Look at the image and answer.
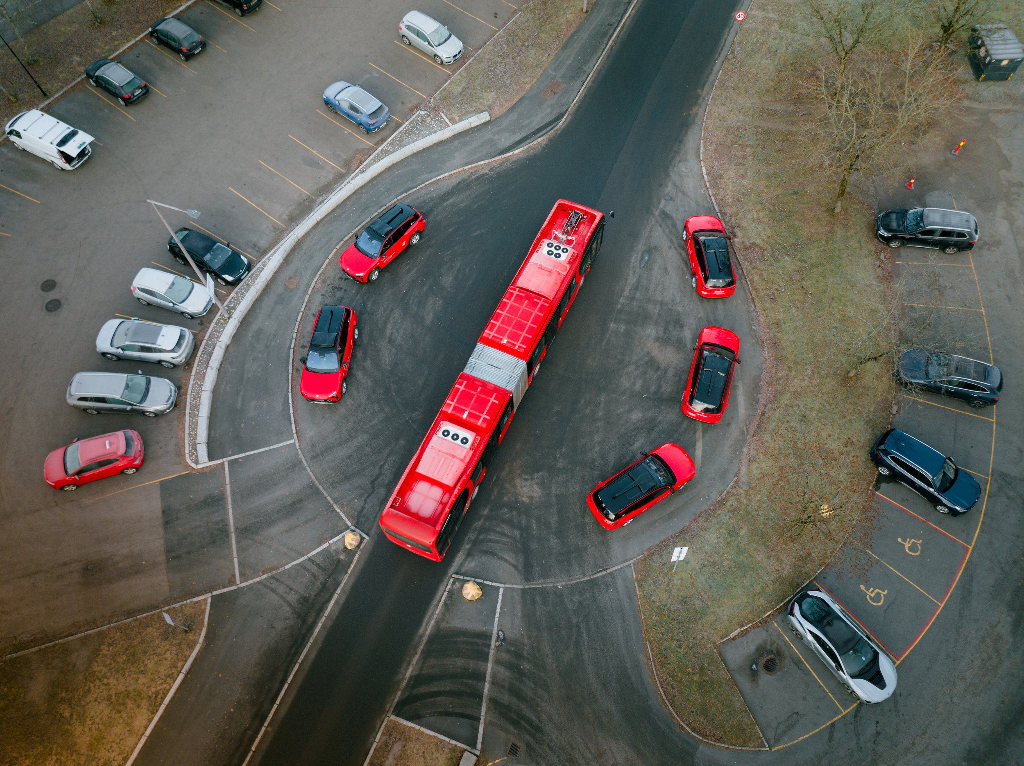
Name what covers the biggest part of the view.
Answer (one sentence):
The scene is dominated by paved ground.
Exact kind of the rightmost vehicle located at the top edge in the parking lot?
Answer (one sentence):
The rightmost vehicle located at the top edge in the parking lot in the image is a car.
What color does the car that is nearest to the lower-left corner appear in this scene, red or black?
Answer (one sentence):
In this view, the car that is nearest to the lower-left corner is red.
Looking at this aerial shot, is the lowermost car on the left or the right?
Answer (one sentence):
The lowermost car appears in the right half of the scene.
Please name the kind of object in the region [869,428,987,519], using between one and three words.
car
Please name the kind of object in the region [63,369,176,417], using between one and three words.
car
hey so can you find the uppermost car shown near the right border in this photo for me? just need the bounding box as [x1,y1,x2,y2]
[878,205,980,254]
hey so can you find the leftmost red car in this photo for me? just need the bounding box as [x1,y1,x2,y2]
[42,431,144,491]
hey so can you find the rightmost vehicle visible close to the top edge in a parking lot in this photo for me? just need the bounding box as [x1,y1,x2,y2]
[400,10,466,64]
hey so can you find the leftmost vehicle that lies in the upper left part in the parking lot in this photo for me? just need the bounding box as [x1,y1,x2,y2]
[6,110,94,172]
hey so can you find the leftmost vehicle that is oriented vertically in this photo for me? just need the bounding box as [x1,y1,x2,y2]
[298,308,358,412]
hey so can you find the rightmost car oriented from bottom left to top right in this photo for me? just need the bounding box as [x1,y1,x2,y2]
[586,443,701,530]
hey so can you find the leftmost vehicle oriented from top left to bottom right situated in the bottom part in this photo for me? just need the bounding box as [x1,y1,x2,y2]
[788,592,906,714]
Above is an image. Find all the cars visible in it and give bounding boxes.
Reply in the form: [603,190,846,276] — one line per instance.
[869,428,987,519]
[298,308,358,412]
[336,204,425,289]
[586,443,701,530]
[895,347,1011,408]
[63,369,176,417]
[94,315,196,368]
[878,205,980,254]
[126,265,218,319]
[400,10,466,64]
[788,592,906,714]
[85,58,150,106]
[219,0,266,15]
[325,83,393,134]
[148,17,210,61]
[167,228,252,286]
[684,215,739,303]
[681,325,741,427]
[42,431,144,491]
